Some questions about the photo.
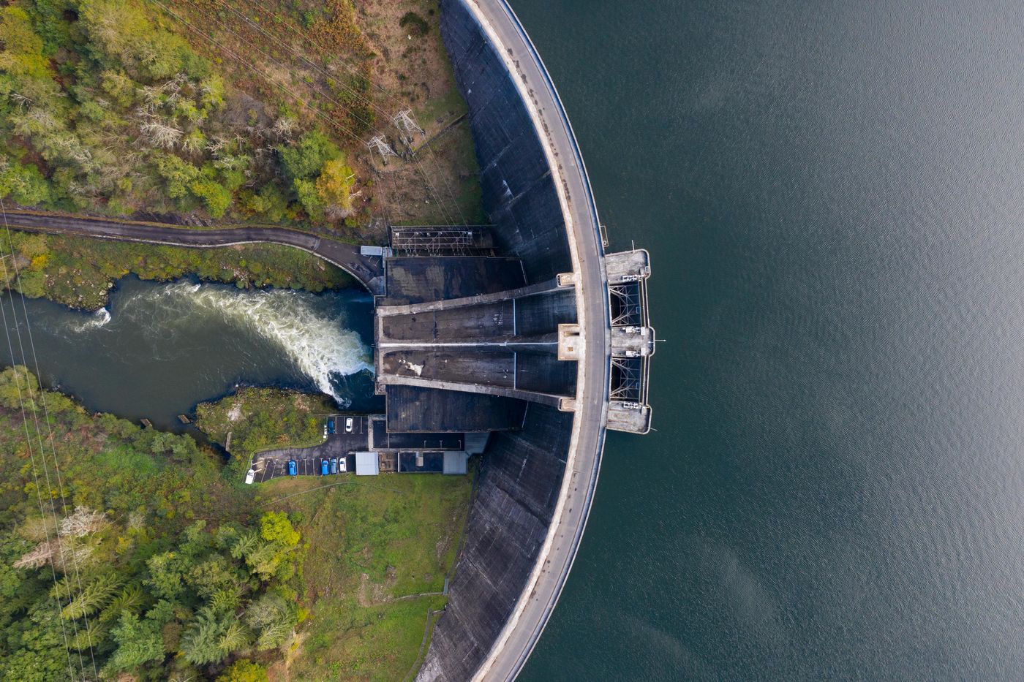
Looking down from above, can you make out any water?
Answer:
Yes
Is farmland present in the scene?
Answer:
No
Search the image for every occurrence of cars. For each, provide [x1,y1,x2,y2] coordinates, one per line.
[328,419,334,434]
[322,460,329,474]
[346,418,353,432]
[339,458,346,472]
[330,459,337,473]
[245,469,254,484]
[289,461,296,475]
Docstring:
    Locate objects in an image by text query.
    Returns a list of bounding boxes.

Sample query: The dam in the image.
[418,0,614,682]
